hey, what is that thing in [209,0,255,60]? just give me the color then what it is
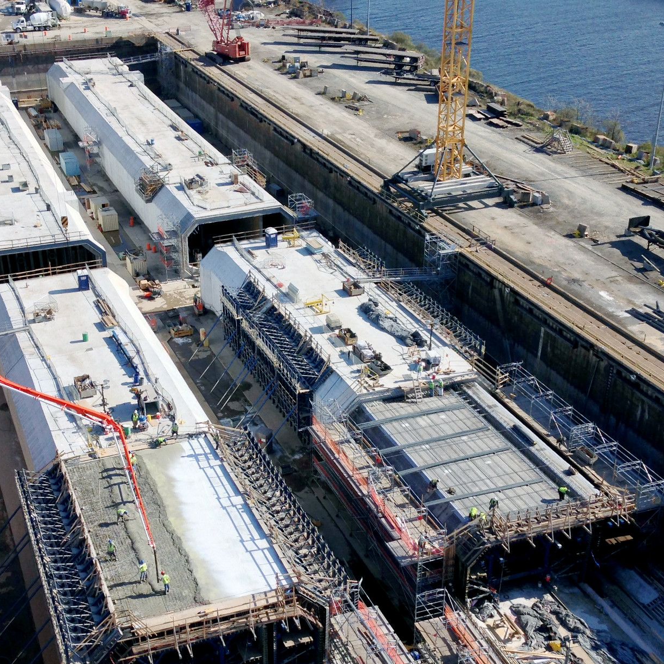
red crane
